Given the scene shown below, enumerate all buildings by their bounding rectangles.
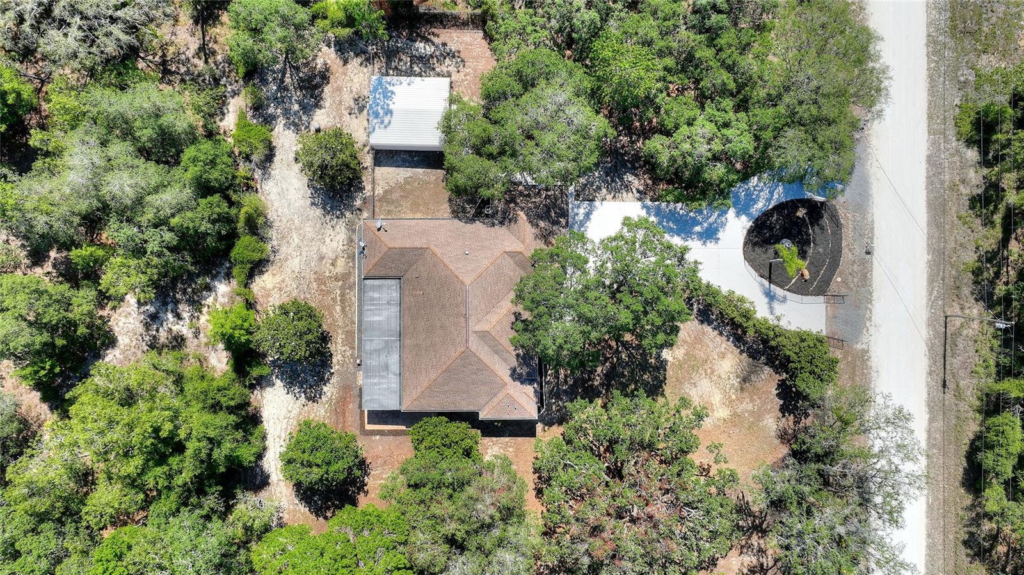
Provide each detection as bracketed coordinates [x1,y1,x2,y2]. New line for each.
[369,77,451,148]
[361,187,558,420]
